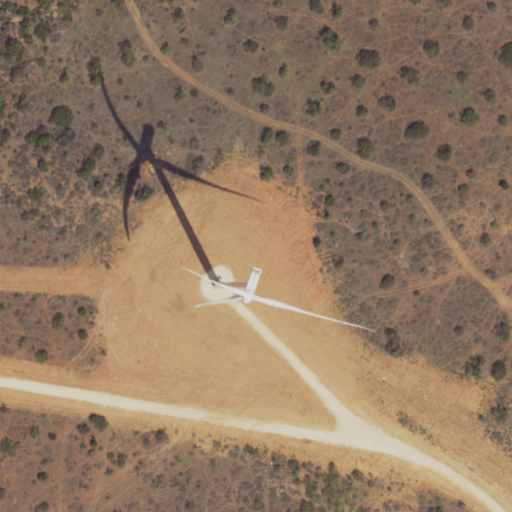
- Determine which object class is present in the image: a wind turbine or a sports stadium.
wind turbine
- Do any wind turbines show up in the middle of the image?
Yes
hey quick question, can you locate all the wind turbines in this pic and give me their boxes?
[193,260,376,334]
